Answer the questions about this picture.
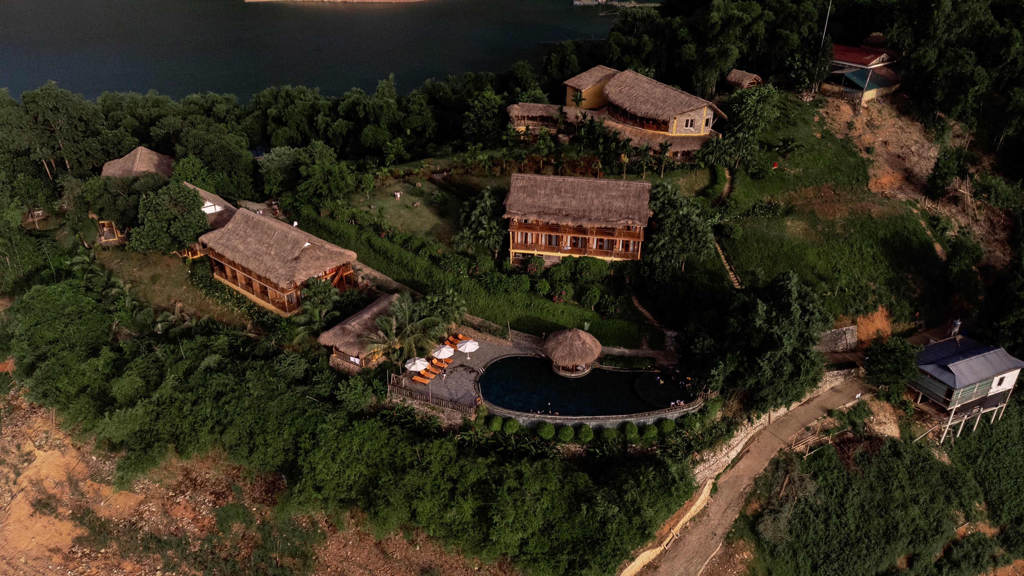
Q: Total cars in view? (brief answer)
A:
none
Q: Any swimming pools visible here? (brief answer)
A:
Yes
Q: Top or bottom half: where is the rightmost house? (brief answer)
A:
bottom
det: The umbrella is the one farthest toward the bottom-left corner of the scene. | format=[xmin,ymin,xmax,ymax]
[405,354,428,377]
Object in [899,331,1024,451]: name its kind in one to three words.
house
